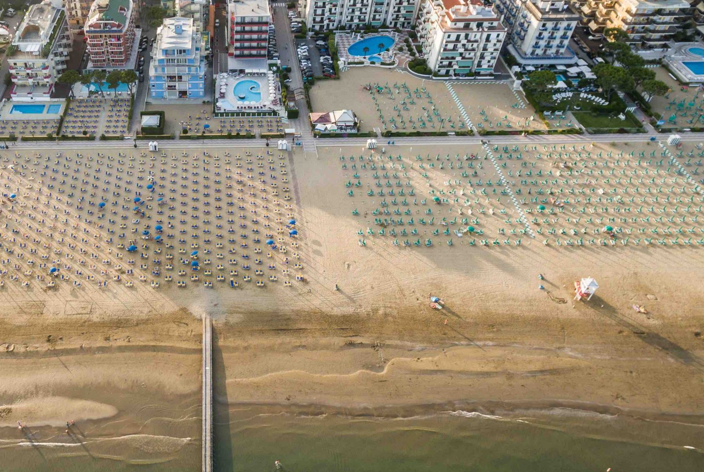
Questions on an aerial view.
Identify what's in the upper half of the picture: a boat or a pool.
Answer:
pool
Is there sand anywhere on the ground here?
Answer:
Yes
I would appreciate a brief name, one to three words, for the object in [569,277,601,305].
shed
